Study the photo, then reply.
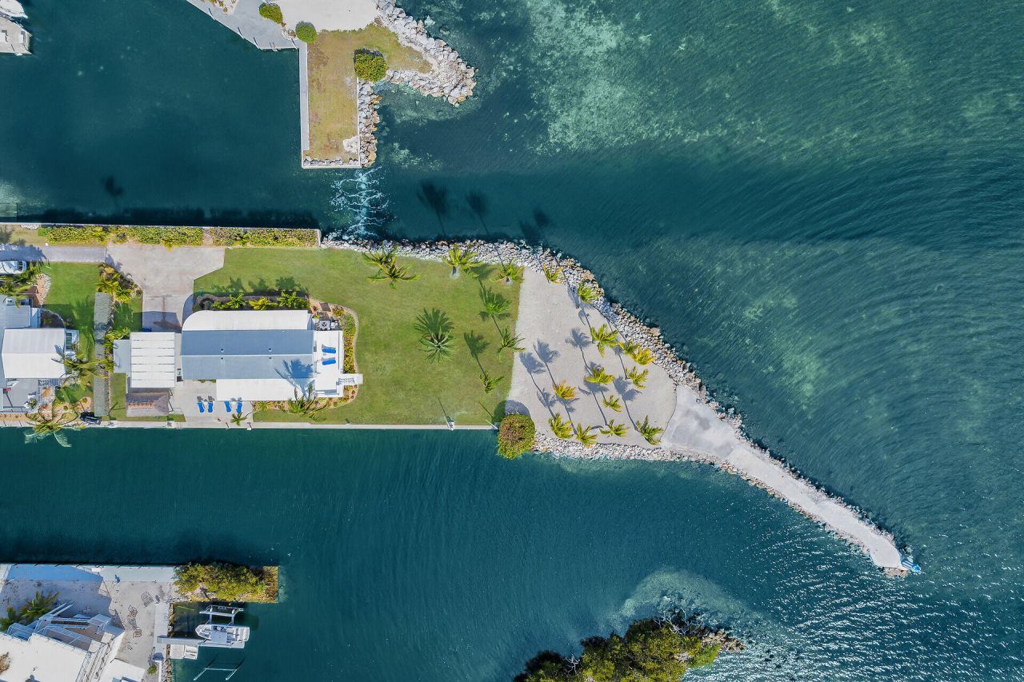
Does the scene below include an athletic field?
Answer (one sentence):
No, there is no athletic field in the image.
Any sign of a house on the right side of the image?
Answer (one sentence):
No, I see no house on the right side of the image.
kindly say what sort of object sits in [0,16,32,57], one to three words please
boat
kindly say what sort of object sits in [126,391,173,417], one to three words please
building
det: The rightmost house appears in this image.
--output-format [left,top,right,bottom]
[180,310,363,401]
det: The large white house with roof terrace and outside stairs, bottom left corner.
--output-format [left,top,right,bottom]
[0,603,154,682]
